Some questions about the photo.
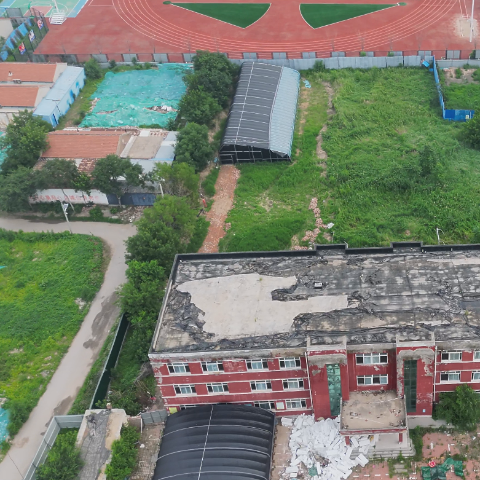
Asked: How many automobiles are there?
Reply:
zero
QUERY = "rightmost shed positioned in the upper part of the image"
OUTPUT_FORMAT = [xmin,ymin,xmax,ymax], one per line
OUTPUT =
[218,55,303,162]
